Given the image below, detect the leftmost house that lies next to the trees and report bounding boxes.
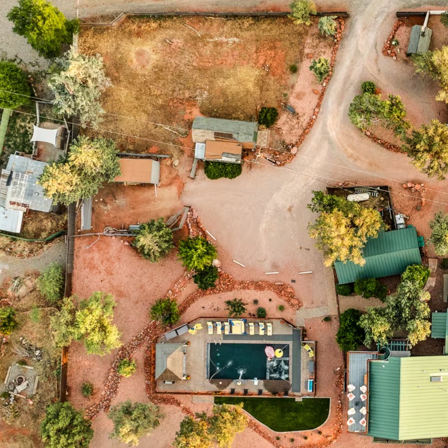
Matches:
[0,154,56,232]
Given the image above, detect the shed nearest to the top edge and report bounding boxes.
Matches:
[406,25,431,54]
